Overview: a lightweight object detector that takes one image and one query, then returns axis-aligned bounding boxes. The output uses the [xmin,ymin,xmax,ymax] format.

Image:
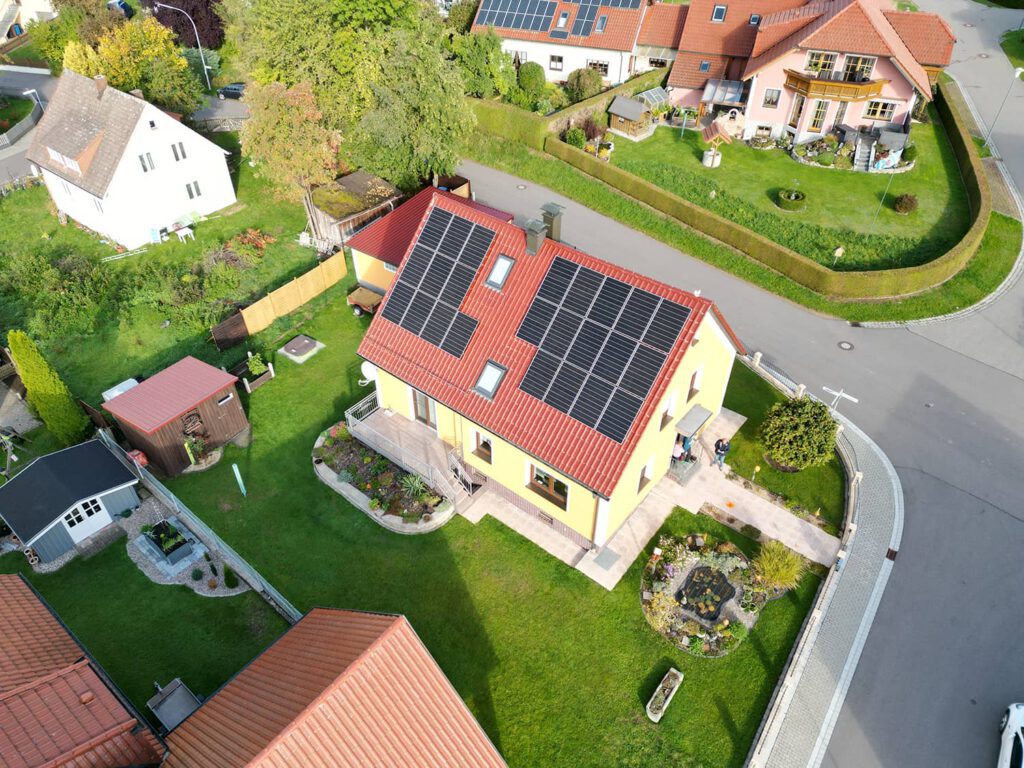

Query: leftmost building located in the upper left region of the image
[25,67,233,249]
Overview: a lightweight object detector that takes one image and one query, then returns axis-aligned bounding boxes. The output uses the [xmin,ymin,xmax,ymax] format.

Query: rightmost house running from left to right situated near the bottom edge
[121,605,509,768]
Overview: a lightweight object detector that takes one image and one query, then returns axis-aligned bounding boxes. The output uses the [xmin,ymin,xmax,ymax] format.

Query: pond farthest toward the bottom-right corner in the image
[676,566,736,620]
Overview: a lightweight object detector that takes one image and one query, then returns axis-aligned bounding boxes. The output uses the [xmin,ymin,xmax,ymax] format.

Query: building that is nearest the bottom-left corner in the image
[0,568,164,768]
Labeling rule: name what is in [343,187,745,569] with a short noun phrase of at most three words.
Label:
house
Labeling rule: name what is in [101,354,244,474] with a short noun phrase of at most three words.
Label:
shed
